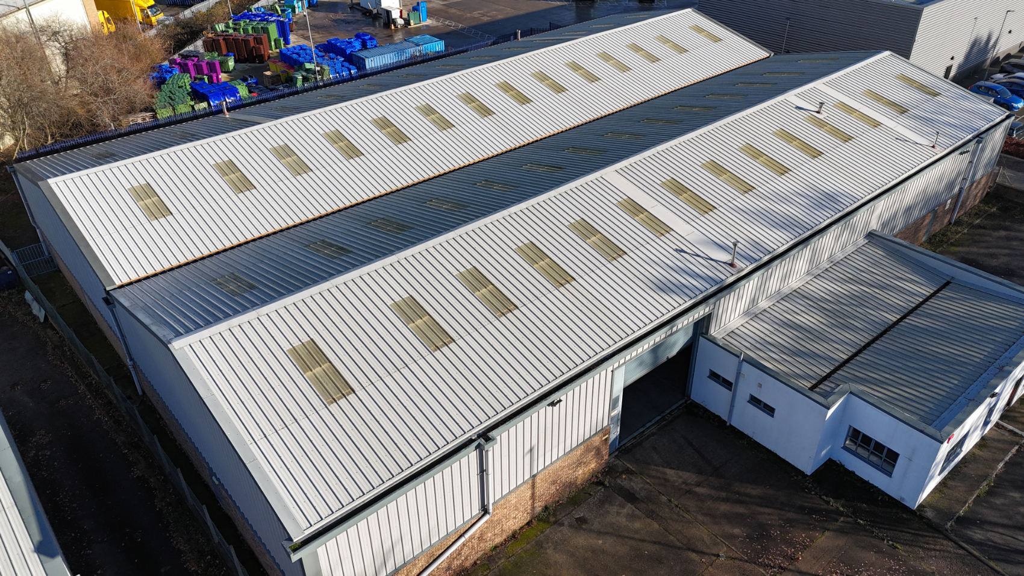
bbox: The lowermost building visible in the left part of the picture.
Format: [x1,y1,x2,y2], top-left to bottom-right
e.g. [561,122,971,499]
[0,399,81,576]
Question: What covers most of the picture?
buildings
